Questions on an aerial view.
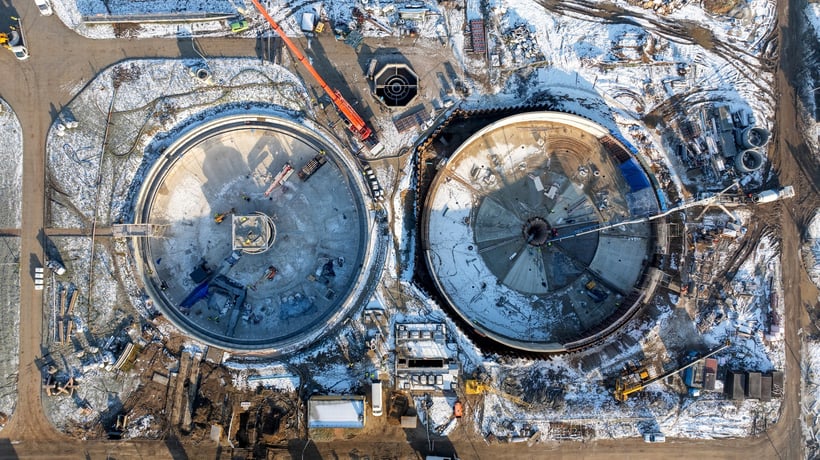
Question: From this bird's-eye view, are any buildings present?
Yes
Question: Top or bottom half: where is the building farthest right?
bottom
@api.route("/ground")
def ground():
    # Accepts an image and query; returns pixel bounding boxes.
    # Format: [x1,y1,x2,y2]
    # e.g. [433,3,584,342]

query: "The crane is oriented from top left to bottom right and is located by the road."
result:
[254,0,394,159]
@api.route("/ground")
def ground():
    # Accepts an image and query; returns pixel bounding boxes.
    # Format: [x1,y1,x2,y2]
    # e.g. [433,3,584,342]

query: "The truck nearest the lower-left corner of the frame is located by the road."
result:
[37,253,66,279]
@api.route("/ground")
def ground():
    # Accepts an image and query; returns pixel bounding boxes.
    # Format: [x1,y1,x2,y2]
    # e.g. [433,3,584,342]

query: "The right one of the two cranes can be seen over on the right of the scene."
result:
[615,345,730,398]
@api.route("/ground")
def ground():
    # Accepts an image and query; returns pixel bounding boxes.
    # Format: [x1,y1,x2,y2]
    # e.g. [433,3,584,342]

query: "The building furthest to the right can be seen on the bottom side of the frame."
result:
[396,323,462,393]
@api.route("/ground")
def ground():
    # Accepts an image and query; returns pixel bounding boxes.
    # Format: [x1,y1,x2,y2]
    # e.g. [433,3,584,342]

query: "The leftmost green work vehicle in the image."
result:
[229,17,248,31]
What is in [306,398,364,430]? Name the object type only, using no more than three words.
shed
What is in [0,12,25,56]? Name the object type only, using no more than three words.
truck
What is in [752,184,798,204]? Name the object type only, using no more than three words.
vehicle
